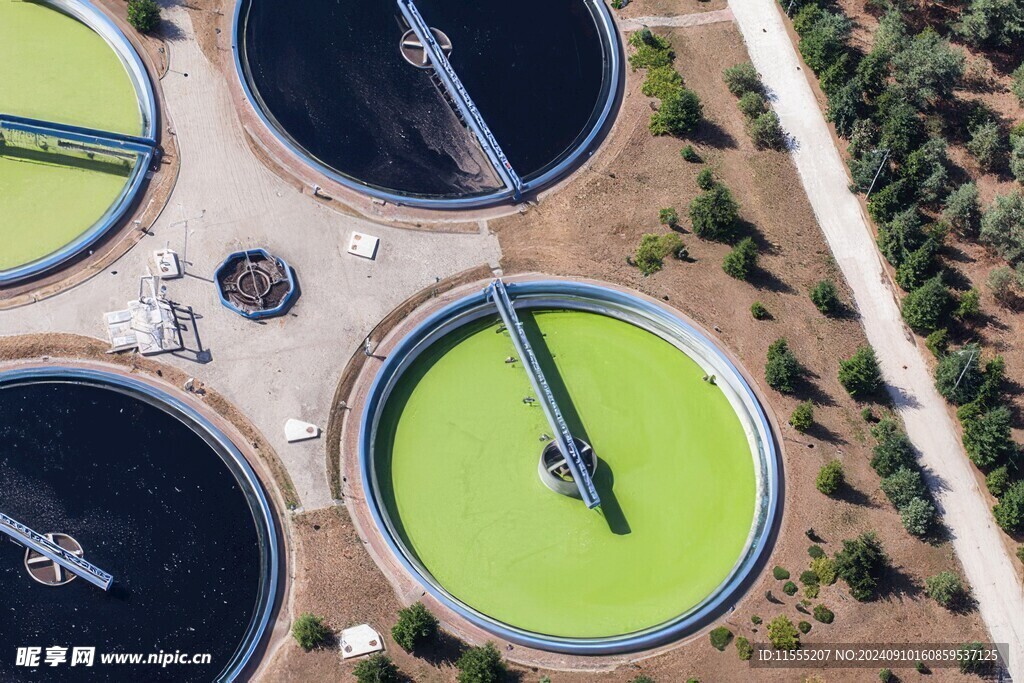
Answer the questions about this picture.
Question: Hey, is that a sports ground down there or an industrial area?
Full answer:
The area seen from above is an industrial area.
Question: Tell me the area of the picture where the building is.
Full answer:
The building sits in the left section of the image.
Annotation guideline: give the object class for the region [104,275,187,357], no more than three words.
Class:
building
